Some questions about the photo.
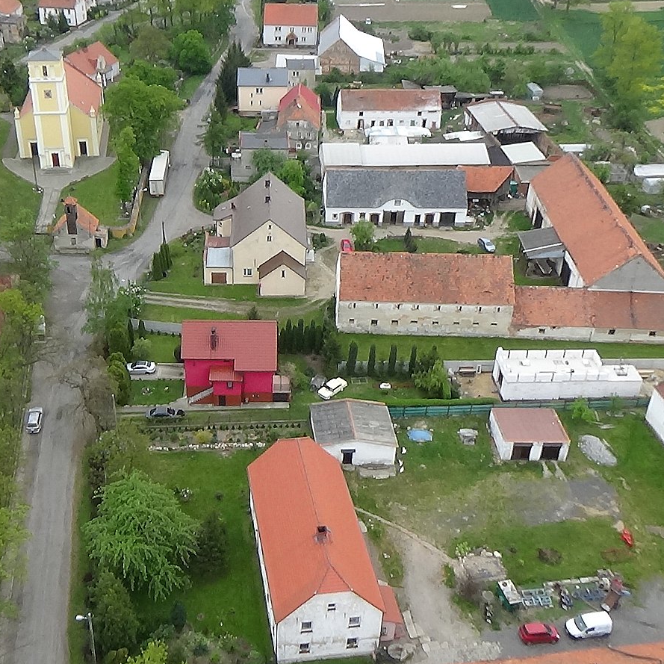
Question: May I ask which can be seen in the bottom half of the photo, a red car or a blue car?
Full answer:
Visible in the bottom half of the photo is a red car.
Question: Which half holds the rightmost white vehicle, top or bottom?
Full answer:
The rightmost white vehicle is in the bottom half of the image.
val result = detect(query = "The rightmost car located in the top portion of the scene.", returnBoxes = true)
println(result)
[478,237,496,253]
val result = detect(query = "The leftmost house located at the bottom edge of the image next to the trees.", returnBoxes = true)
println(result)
[246,435,390,664]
